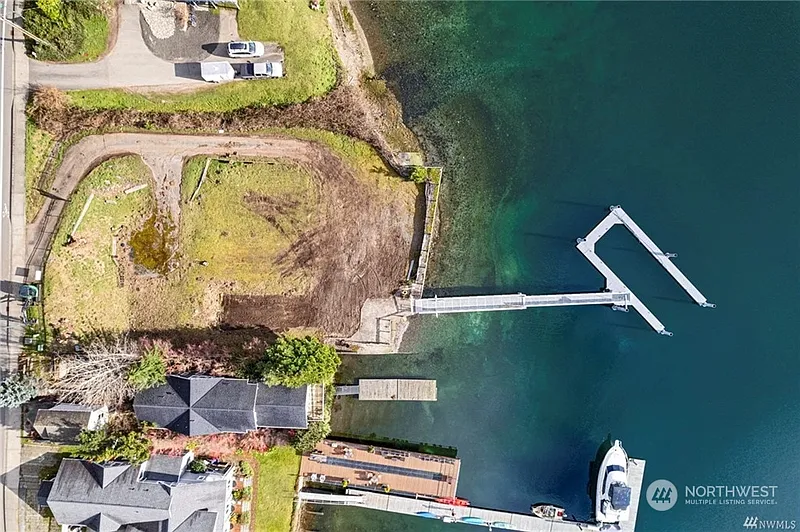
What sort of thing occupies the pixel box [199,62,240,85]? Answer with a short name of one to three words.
trailer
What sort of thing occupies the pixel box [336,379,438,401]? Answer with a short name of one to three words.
pier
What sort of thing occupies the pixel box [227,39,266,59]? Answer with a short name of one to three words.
car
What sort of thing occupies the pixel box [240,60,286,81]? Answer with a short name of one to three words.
truck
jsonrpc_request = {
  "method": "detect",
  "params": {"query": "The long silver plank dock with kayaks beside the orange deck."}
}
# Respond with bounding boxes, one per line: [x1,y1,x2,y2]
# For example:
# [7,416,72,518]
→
[346,488,612,532]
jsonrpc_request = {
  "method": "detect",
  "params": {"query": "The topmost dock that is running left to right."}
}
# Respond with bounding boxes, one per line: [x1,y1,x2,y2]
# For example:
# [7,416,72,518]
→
[412,290,635,318]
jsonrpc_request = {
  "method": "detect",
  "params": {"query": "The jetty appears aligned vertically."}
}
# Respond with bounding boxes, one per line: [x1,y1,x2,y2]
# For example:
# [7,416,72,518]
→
[611,457,645,532]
